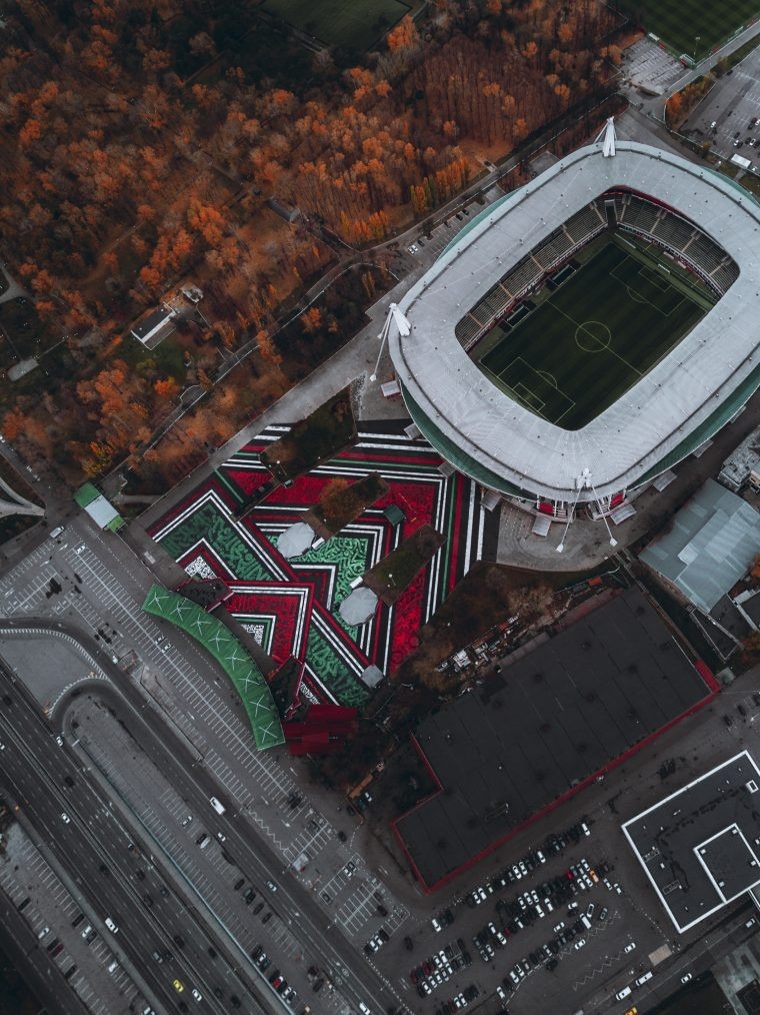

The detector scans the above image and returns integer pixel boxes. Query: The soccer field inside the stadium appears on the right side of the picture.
[476,238,713,430]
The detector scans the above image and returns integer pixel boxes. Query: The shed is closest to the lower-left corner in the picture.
[118,650,143,675]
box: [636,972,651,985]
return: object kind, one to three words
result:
vehicle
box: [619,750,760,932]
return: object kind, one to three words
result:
building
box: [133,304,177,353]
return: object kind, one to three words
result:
house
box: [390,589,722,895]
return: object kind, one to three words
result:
warehouse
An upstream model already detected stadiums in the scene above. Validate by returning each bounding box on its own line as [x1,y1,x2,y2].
[368,111,760,553]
